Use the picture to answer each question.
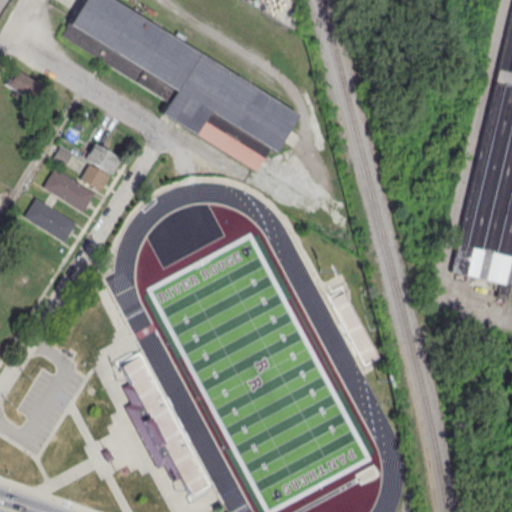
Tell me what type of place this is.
sports ground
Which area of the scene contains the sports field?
bottom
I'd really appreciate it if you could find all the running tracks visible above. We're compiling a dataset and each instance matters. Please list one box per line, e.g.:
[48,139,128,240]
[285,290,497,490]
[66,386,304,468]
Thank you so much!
[106,184,402,512]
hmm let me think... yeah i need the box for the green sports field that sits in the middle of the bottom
[144,233,374,512]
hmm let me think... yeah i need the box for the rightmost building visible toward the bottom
[123,382,179,481]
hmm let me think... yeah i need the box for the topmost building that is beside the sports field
[63,0,298,172]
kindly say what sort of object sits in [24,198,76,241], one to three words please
house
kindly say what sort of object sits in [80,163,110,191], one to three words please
house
